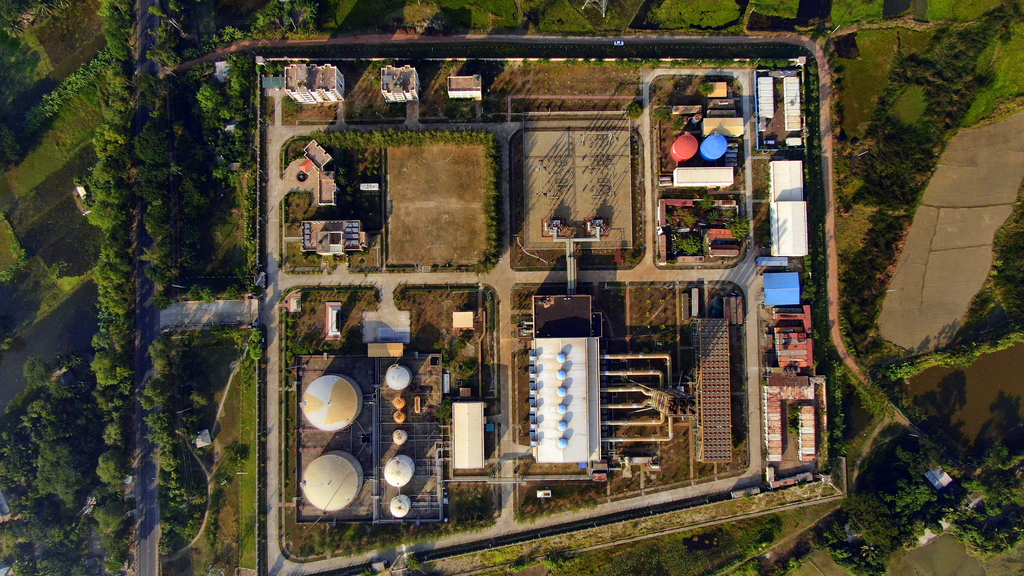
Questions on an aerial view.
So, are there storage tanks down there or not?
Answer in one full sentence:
Yes, the picture does show a storage tank.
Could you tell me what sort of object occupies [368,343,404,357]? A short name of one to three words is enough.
shed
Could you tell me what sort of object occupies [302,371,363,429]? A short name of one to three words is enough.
storage tank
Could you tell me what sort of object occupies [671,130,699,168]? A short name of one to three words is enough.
water tank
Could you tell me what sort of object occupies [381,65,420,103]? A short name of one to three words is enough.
building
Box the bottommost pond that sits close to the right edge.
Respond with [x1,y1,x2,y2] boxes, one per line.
[900,341,1024,447]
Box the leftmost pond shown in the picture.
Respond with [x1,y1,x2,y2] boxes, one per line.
[0,277,100,412]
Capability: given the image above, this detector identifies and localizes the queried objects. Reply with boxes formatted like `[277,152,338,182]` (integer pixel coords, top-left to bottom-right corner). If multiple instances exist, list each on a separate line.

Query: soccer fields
[386,143,490,266]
